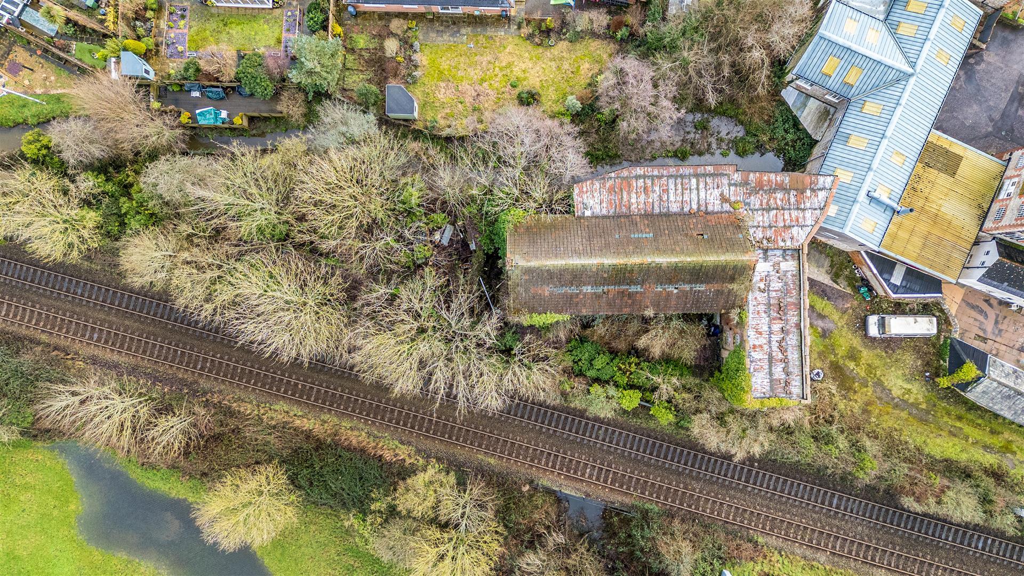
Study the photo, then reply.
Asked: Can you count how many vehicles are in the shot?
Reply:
1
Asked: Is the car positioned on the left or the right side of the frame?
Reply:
right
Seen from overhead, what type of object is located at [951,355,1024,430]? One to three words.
shed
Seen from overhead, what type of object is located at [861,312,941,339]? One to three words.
car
